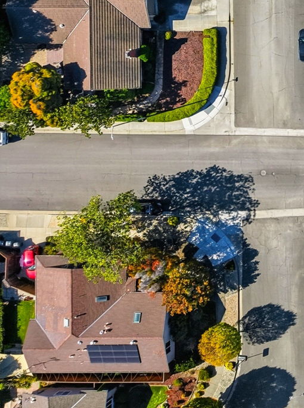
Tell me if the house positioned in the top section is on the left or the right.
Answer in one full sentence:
You can find the house positioned in the top section on the left side of the picture.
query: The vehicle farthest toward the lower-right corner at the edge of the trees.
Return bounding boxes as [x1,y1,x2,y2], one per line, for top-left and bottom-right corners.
[135,199,169,215]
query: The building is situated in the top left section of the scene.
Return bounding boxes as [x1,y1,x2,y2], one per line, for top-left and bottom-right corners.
[1,0,157,92]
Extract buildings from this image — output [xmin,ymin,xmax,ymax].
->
[21,384,117,408]
[17,254,175,383]
[1,0,157,92]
